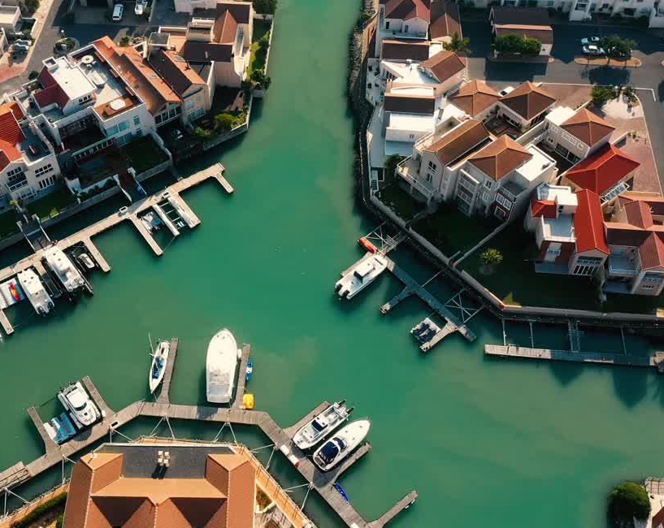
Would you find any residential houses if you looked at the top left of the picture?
Yes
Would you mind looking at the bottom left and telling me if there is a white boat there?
Yes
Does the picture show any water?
Yes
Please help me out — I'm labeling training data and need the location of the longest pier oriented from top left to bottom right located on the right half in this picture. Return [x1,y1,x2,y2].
[340,250,476,353]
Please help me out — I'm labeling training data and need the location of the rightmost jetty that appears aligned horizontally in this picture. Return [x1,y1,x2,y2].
[483,344,664,375]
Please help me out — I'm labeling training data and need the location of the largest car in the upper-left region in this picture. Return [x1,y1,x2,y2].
[113,4,125,21]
